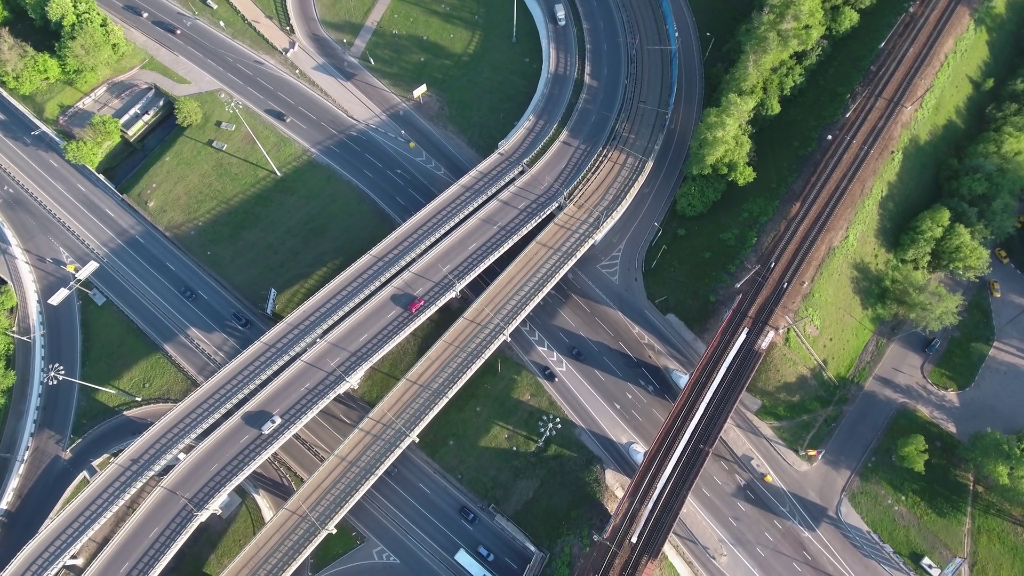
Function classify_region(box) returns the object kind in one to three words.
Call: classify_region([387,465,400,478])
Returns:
vehicle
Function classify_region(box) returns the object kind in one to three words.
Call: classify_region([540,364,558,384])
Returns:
car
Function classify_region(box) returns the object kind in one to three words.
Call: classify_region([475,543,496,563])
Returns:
car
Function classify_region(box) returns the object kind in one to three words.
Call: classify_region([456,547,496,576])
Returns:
bus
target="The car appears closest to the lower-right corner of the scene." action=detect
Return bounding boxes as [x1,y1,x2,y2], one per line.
[923,336,941,356]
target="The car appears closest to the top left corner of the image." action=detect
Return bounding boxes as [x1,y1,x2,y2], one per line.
[129,5,147,18]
